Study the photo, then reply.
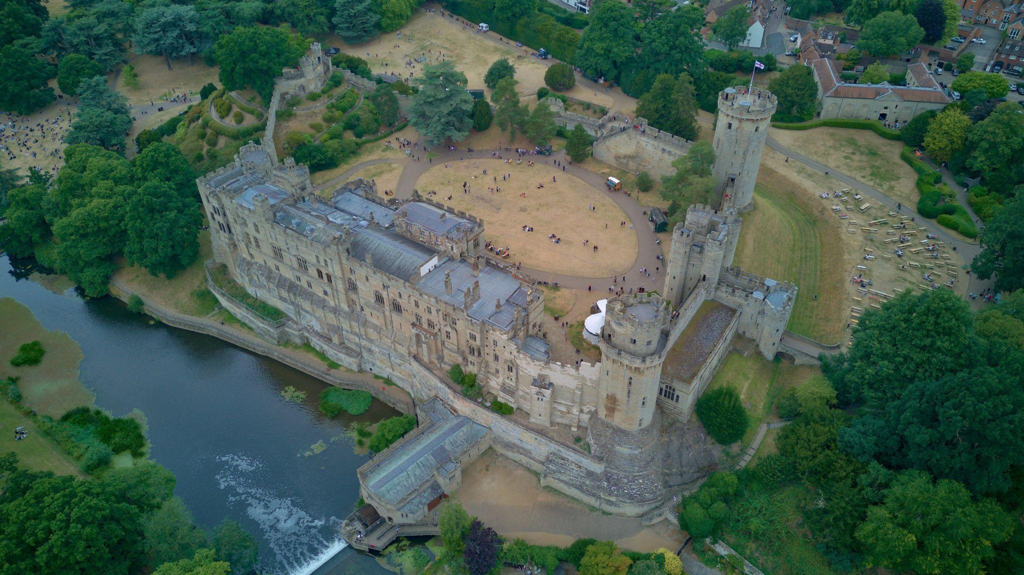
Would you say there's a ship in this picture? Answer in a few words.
No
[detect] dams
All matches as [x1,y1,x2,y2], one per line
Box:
[285,532,345,575]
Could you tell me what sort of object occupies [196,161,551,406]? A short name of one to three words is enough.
building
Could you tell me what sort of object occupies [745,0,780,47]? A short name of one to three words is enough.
house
